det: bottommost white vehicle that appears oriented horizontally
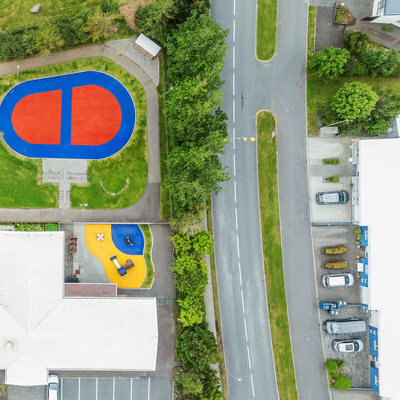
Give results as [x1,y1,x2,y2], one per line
[331,338,364,354]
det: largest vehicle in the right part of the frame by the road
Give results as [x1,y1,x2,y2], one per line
[323,317,371,335]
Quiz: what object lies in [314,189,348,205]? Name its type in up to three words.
car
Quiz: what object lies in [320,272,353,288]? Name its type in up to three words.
car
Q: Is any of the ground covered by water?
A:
No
